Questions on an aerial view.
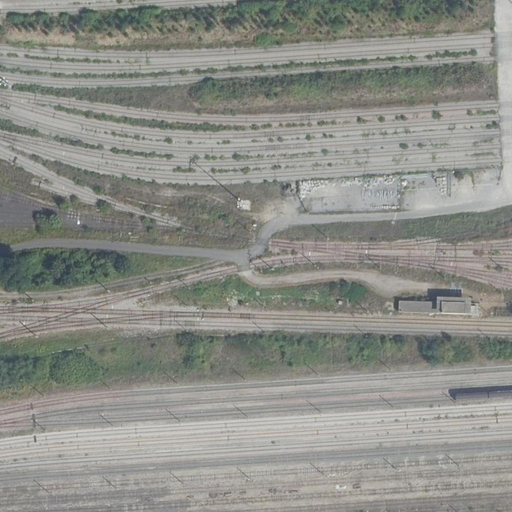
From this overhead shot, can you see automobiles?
No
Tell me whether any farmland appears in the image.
No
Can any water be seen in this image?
No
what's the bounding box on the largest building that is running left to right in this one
[436,298,474,314]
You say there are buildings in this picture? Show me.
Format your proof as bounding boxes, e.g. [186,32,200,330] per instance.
[436,298,474,314]
[400,300,434,312]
